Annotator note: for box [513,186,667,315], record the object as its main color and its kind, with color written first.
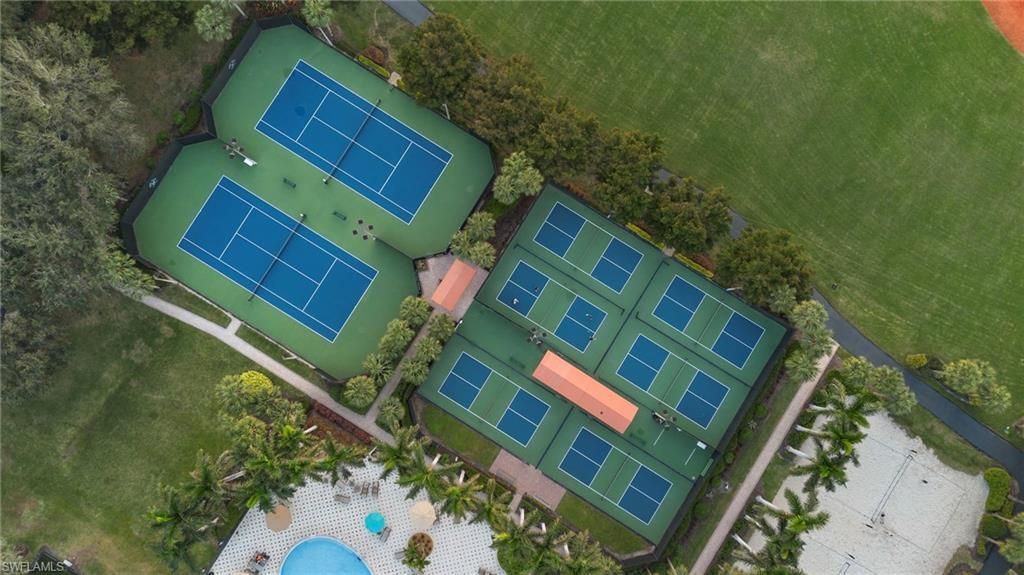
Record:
green sports court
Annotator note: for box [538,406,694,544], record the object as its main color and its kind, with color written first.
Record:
green sports court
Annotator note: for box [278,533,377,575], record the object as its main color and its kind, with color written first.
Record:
blue swimming pool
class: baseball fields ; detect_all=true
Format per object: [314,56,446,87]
[425,0,1024,449]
